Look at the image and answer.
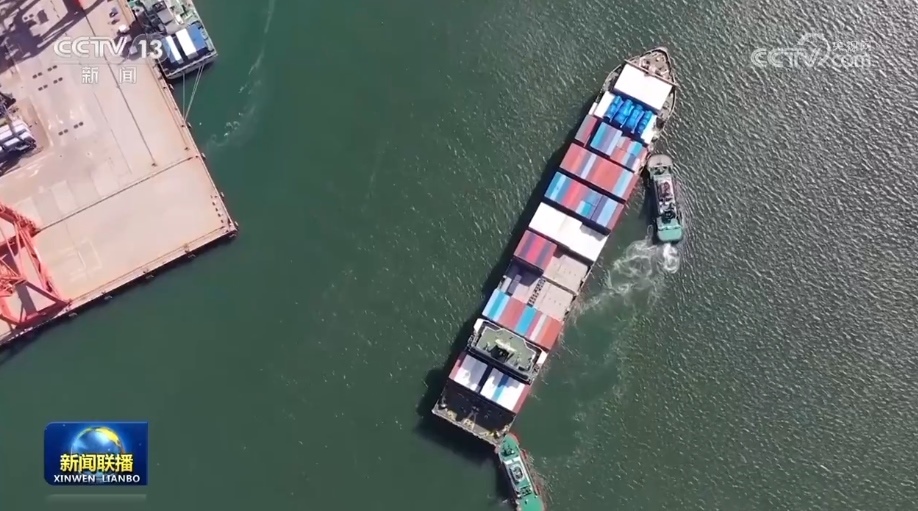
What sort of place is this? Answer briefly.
port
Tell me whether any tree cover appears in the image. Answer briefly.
No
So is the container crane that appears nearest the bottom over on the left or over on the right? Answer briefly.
left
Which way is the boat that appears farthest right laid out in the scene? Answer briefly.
vertically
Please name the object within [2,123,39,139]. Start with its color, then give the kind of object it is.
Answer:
white vehicle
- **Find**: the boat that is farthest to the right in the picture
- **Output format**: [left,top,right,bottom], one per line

[645,154,681,240]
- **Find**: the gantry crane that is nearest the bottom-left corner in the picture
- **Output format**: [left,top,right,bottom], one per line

[0,202,74,332]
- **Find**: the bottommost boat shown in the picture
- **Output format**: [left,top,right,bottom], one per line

[498,433,545,511]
